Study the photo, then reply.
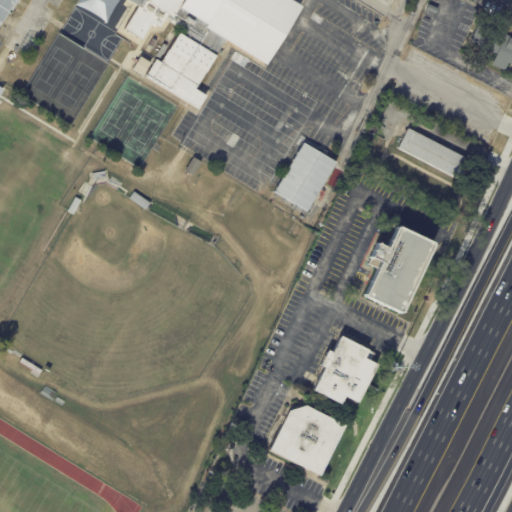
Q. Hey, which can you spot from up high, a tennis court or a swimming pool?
tennis court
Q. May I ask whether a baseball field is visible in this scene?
Yes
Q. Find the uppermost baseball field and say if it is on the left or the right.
left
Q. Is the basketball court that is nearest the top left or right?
left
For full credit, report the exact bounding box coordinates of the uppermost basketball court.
[62,0,131,62]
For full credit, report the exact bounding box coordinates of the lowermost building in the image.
[268,406,346,476]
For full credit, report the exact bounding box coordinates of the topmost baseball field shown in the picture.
[8,182,252,402]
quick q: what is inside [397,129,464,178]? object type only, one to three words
building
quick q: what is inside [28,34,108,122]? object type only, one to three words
tennis court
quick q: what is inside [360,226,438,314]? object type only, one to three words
building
